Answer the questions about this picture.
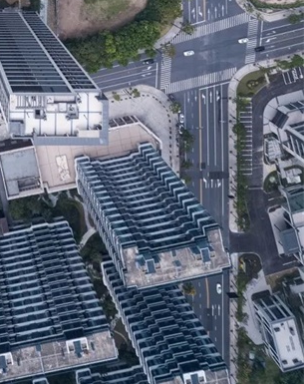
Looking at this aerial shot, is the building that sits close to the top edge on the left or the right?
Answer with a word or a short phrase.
left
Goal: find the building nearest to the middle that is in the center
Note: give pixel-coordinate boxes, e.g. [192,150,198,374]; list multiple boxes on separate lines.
[80,145,228,293]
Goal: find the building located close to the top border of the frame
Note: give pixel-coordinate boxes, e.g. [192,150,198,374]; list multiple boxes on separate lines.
[0,7,111,145]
